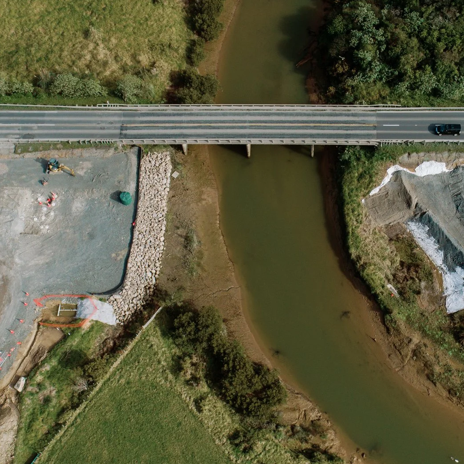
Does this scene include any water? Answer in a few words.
Yes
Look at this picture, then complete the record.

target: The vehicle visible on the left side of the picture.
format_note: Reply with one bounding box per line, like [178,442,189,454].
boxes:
[45,161,70,180]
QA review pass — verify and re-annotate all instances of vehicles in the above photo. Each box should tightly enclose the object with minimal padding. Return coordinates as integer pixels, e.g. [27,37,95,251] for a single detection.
[45,161,70,180]
[437,122,463,135]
